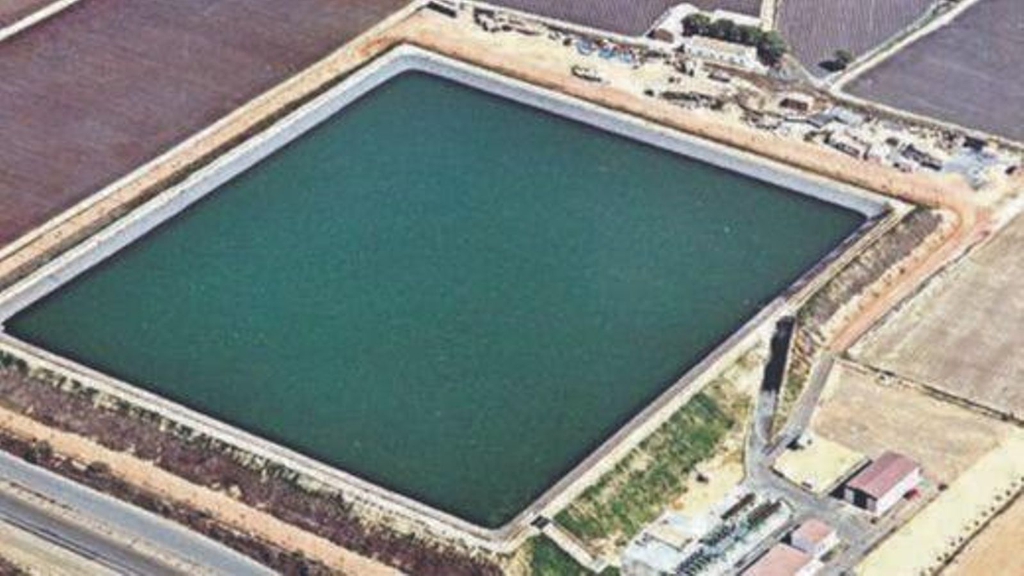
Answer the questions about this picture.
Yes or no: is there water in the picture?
Yes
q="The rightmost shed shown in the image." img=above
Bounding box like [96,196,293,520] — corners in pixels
[967,133,994,153]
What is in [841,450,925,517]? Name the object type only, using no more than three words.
shed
